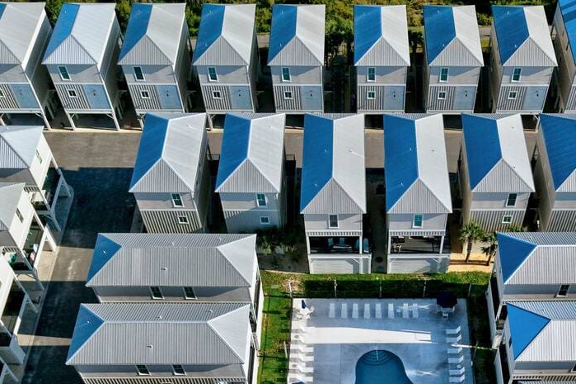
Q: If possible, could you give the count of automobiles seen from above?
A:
0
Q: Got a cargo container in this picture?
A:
No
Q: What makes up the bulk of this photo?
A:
buildings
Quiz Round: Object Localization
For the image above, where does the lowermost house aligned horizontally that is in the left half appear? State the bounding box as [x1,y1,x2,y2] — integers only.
[65,302,258,384]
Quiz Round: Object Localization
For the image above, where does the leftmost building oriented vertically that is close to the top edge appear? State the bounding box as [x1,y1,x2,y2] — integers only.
[0,3,60,130]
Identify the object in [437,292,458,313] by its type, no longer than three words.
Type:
umbrella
